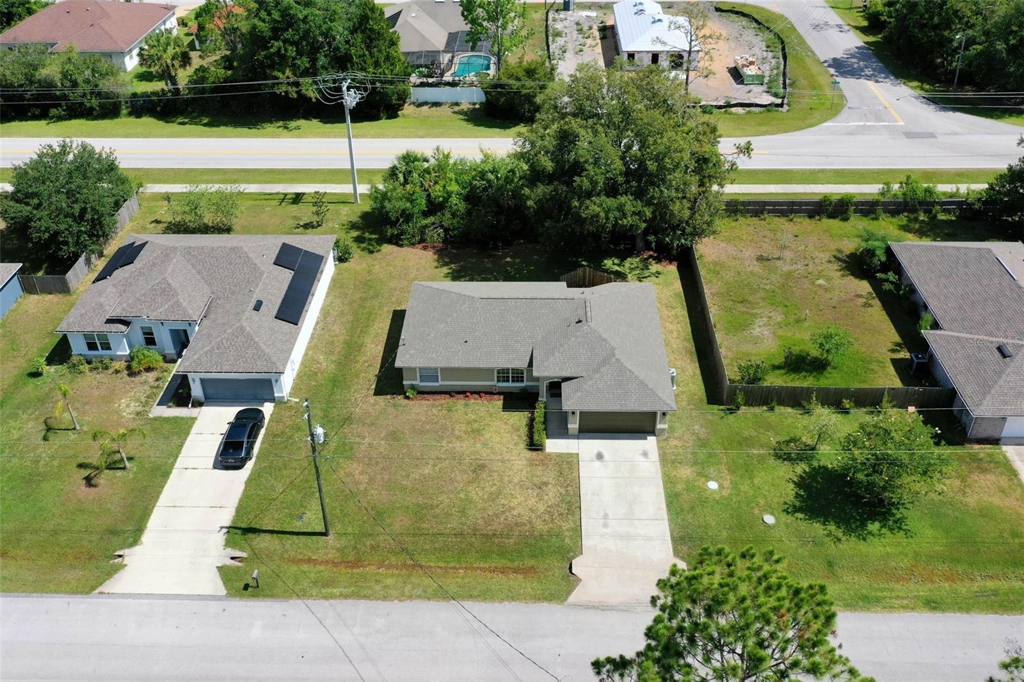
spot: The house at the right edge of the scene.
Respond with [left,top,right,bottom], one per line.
[888,242,1024,441]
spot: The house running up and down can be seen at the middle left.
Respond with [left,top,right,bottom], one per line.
[0,263,31,335]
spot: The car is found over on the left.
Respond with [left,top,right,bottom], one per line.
[216,402,270,464]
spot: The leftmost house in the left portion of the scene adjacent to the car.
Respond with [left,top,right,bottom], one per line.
[60,234,334,404]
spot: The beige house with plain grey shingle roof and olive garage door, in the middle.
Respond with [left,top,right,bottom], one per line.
[395,281,676,435]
